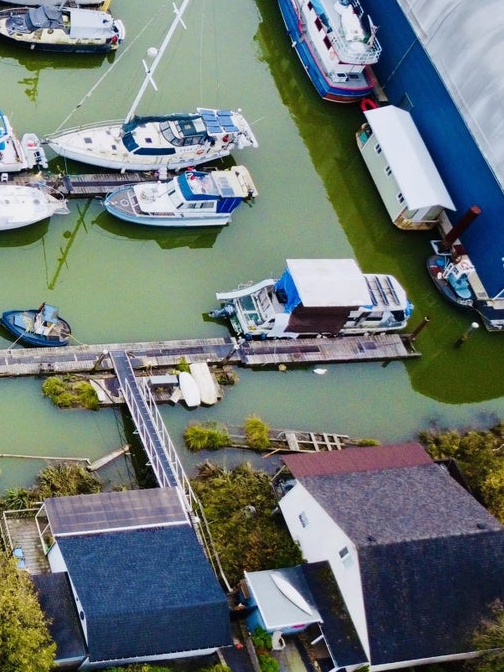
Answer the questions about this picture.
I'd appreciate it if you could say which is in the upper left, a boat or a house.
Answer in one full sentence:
The feature located in the upper left is a boat.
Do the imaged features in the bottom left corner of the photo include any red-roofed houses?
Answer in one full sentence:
No, there is no red-roofed house in the bottom left corner of the photo.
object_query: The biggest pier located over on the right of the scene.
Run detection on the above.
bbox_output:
[240,333,413,369]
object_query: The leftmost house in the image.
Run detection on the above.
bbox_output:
[4,485,227,672]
